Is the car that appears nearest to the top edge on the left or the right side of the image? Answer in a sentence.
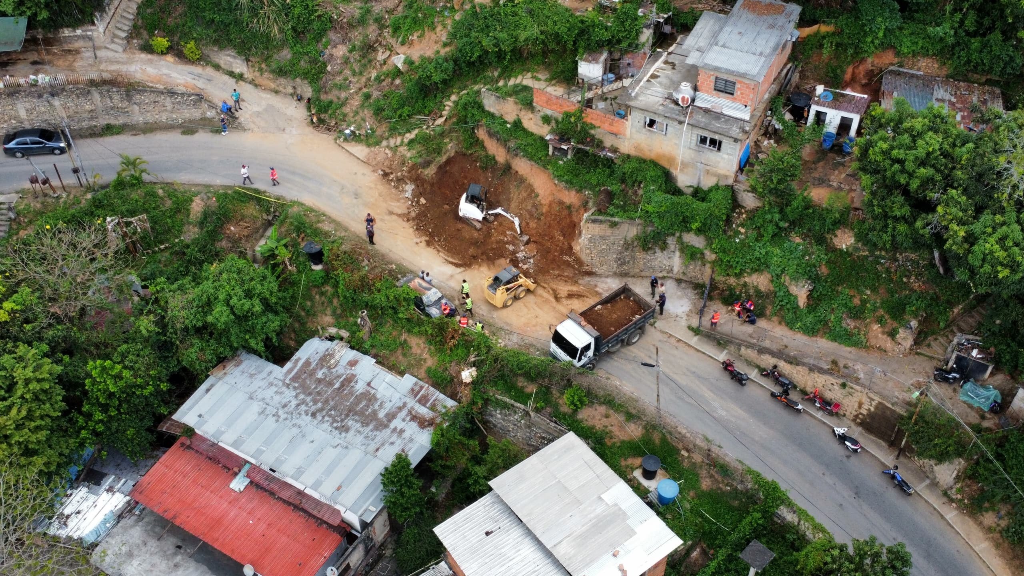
It is on the left.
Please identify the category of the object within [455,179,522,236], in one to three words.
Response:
work vehicle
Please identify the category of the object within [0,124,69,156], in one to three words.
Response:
car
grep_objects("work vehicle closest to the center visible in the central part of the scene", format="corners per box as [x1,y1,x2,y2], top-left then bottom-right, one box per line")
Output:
[483,260,541,307]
